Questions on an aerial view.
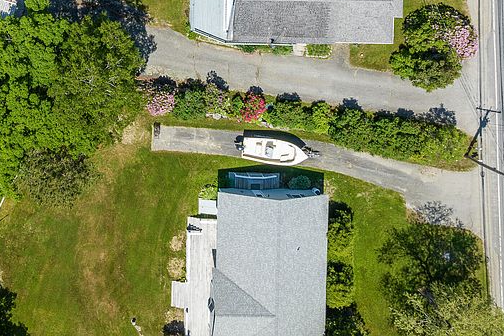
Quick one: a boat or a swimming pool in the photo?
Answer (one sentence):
The one in the frame is a boat.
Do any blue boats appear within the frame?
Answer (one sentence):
No, there isn't any blue boat down there.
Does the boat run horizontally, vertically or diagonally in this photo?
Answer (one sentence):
The boat has been laid out horizontally relative to the frame.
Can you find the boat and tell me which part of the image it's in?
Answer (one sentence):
The boat appears toward the center of the photo.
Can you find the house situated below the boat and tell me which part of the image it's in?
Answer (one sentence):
Look in the bottom portion of the view to spot the house situated below the boat.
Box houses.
[170,173,330,336]
[186,0,404,44]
